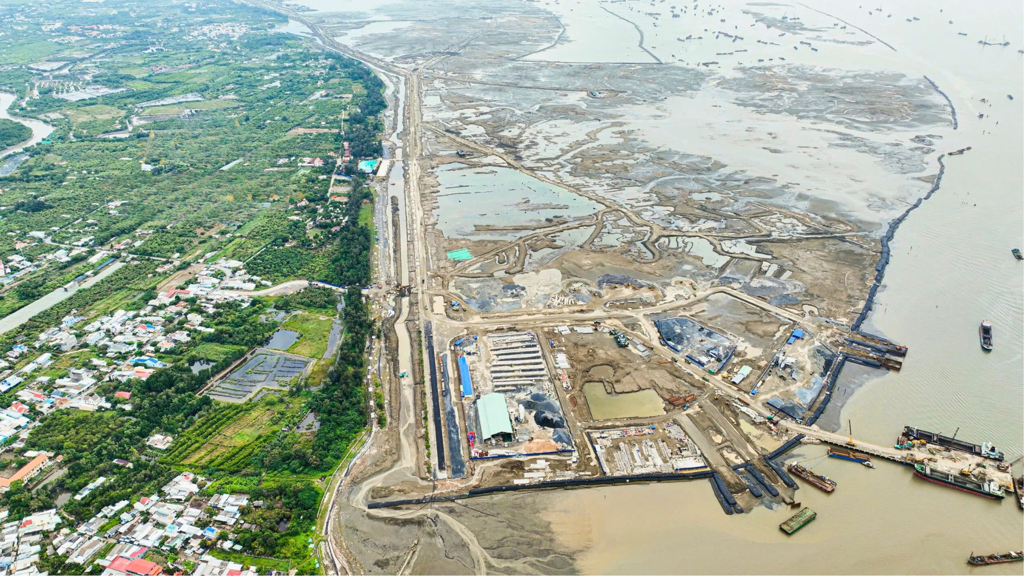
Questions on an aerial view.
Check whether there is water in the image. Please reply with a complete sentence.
Yes, some water is visible.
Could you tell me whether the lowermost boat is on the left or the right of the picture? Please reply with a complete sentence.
It is on the right.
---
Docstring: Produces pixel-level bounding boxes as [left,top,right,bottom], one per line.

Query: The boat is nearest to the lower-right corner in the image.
[968,547,1024,568]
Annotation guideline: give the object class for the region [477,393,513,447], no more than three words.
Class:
building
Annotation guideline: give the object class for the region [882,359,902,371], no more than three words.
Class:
ship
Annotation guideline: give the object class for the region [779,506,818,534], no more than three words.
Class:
ship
